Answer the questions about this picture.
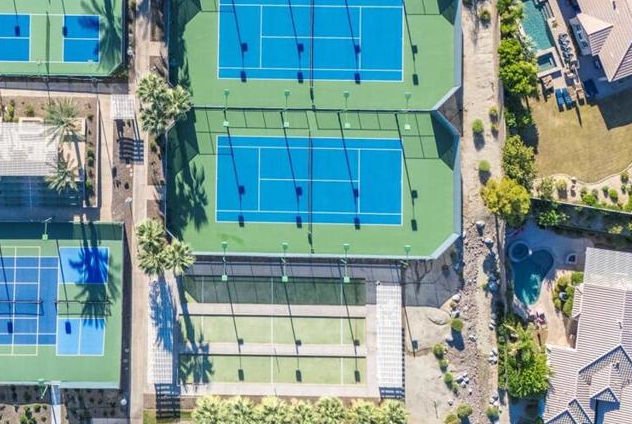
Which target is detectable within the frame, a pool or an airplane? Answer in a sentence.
It is a pool that can be seen here.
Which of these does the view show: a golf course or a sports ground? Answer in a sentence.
This image shows a sports ground.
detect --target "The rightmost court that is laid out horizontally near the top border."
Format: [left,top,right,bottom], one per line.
[169,0,454,110]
